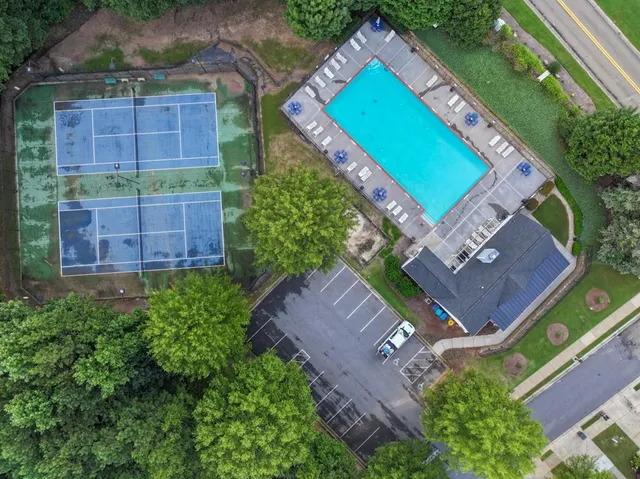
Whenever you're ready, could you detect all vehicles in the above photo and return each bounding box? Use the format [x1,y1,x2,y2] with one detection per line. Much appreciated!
[378,321,414,360]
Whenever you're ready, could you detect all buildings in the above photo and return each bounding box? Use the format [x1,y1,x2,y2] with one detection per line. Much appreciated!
[401,211,571,338]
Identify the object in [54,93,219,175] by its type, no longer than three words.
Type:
tennis court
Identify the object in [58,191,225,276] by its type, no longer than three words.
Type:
tennis court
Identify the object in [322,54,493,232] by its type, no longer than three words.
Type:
swimming pool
